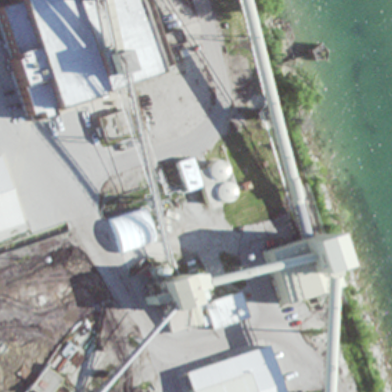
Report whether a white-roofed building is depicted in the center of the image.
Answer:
Yes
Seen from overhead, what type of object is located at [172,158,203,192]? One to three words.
building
